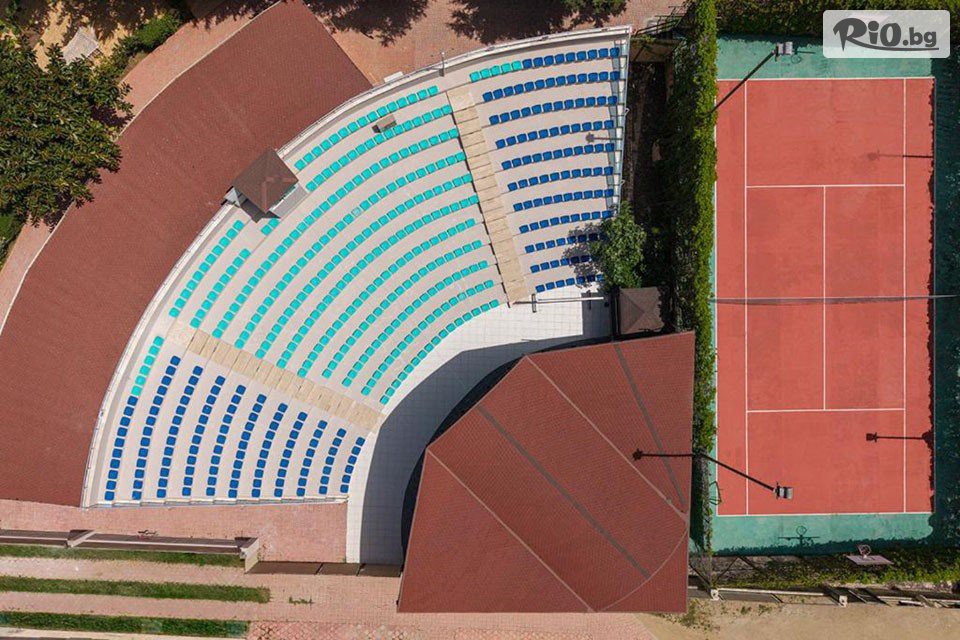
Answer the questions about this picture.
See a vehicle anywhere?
No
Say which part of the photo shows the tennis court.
right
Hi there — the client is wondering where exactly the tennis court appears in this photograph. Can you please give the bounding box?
[708,34,960,556]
